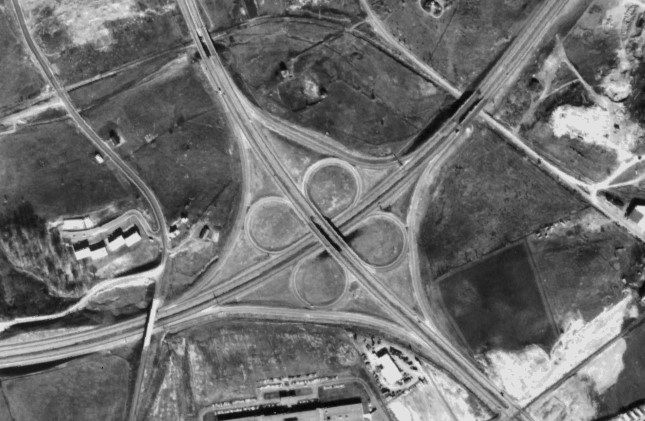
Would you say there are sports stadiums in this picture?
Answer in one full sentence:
No, the photo shows no sports stadium.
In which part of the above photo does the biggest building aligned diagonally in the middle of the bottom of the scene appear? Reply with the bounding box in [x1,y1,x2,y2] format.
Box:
[377,353,403,384]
